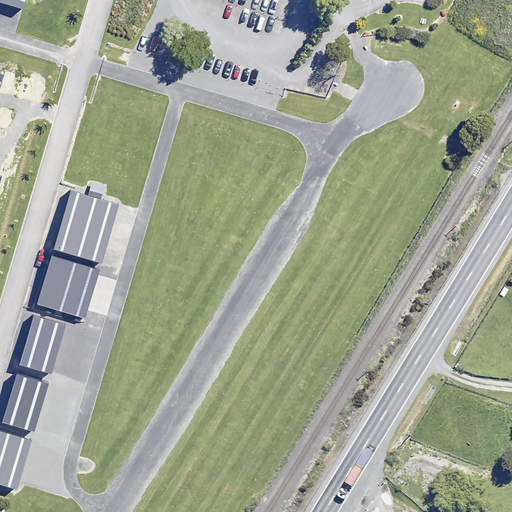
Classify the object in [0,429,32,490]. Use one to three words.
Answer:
shed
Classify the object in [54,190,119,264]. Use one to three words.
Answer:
shed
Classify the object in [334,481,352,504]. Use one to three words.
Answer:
vehicle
